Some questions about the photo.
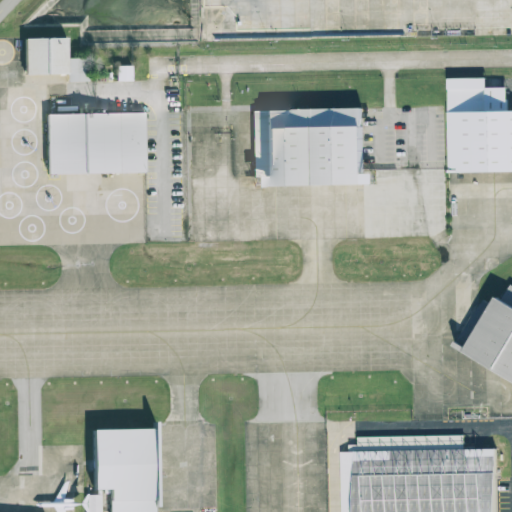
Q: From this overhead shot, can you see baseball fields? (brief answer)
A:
No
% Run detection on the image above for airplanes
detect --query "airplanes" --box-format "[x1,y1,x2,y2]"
[38,482,88,512]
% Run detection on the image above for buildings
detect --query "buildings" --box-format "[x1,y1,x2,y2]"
[118,66,134,81]
[71,58,85,82]
[453,287,512,381]
[26,37,70,74]
[342,450,501,512]
[254,108,370,186]
[48,113,147,175]
[94,423,161,512]
[358,436,464,450]
[447,78,512,173]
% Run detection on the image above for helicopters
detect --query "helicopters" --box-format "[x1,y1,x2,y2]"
[43,190,56,207]
[18,134,35,150]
